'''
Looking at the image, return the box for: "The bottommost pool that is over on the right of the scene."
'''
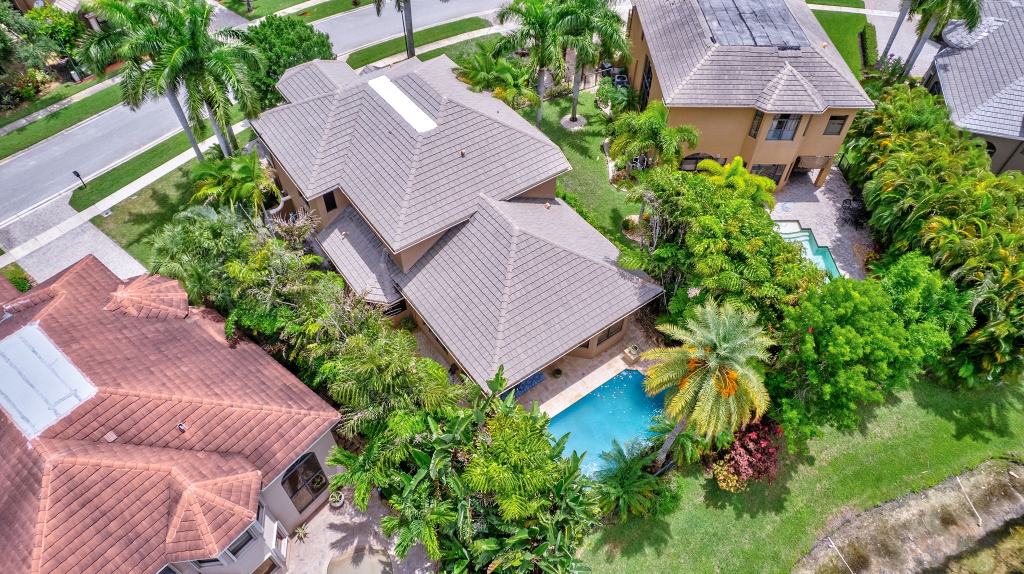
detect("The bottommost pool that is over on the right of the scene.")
[542,365,706,482]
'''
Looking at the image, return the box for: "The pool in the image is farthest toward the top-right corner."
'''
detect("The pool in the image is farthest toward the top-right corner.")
[765,219,845,290]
